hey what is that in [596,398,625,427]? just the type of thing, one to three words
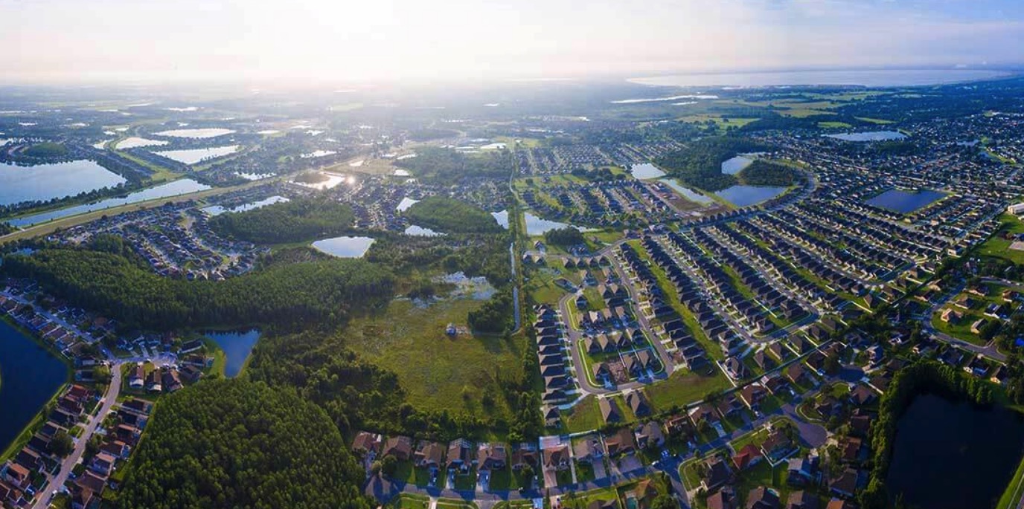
house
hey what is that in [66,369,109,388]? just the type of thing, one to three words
house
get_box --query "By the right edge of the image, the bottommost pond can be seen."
[887,393,1024,509]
